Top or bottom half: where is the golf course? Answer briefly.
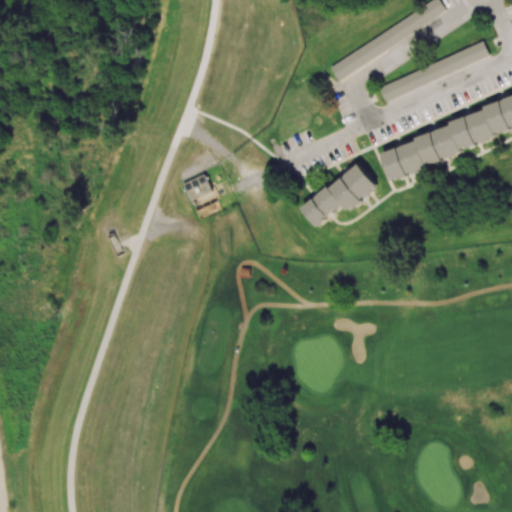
bottom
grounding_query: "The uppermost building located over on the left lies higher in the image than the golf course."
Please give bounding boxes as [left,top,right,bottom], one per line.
[183,175,222,218]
